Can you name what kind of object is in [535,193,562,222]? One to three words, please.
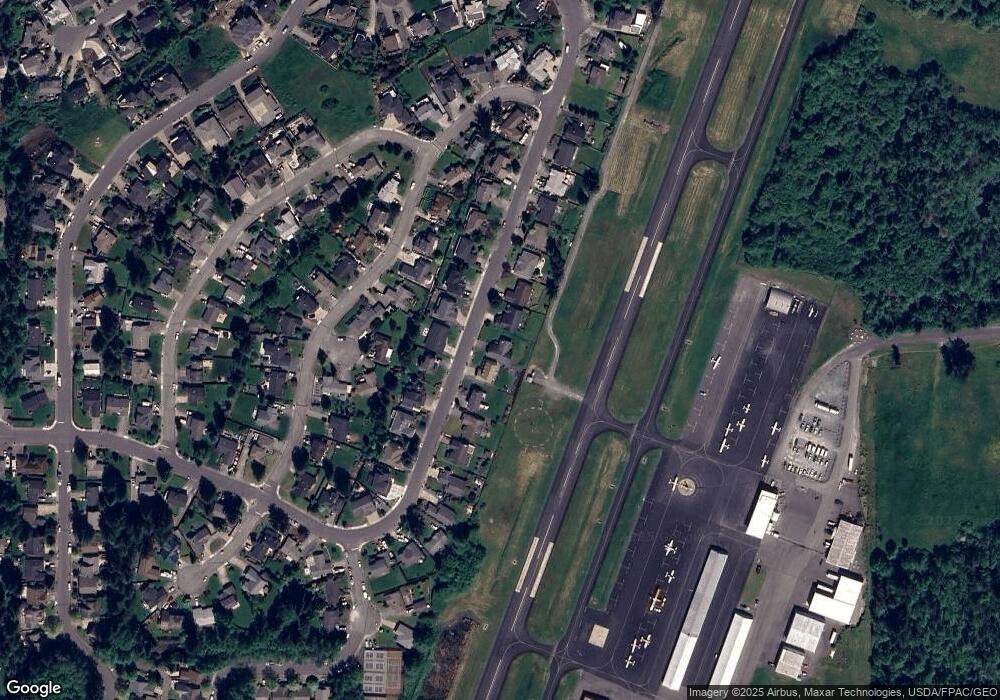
house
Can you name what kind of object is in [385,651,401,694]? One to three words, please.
tennis court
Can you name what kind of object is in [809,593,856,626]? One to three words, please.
building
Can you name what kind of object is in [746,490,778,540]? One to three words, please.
hangar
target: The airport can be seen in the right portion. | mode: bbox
[415,0,862,700]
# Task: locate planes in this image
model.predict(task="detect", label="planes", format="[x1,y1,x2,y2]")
[633,638,642,652]
[762,454,771,468]
[736,419,745,432]
[651,590,663,608]
[743,401,751,415]
[666,569,674,583]
[727,423,735,437]
[711,357,722,370]
[641,634,650,648]
[627,654,636,669]
[667,540,677,556]
[772,421,781,435]
[720,438,730,454]
[669,476,679,491]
